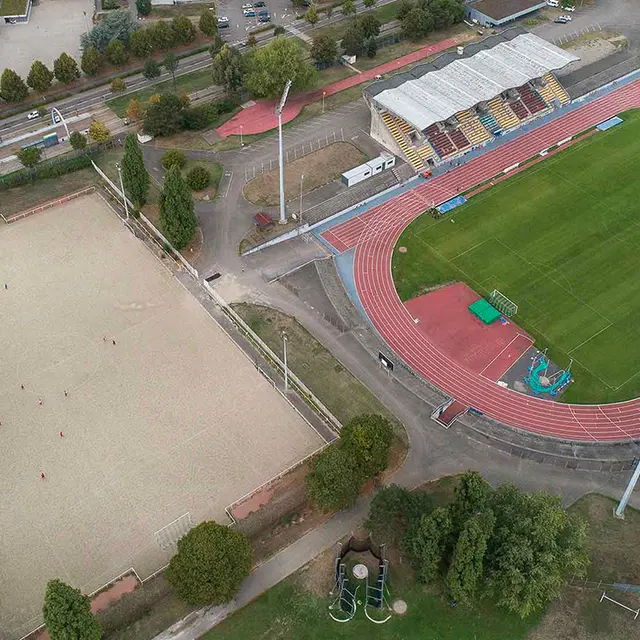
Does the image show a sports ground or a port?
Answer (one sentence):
It's a sports ground.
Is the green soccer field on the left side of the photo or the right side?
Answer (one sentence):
It is on the right.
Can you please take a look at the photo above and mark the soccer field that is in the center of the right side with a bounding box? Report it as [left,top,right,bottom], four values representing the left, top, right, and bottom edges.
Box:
[391,105,640,406]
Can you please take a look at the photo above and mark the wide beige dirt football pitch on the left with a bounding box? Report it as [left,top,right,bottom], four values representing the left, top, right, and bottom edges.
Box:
[0,183,322,640]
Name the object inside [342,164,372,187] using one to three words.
building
